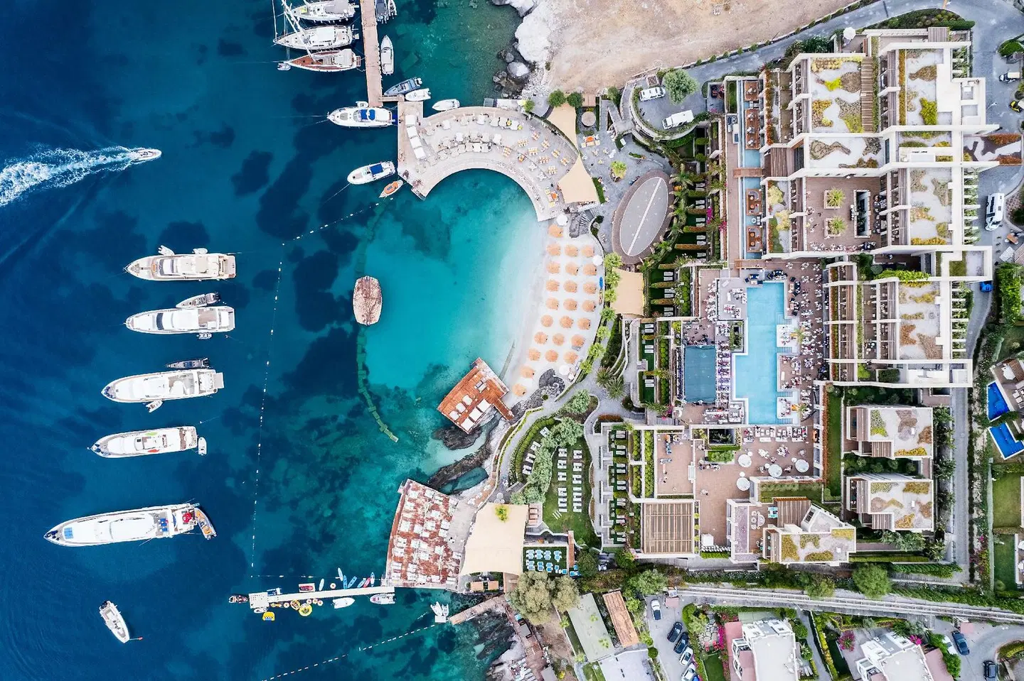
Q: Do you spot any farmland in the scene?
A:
No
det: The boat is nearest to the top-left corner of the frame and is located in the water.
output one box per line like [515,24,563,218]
[128,149,162,161]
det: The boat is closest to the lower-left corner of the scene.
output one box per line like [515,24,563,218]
[97,599,129,643]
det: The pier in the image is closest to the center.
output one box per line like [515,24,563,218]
[437,357,513,434]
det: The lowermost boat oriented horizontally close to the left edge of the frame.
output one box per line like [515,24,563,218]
[44,503,210,541]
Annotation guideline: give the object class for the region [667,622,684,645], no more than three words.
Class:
car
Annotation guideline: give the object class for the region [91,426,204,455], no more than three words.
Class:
boat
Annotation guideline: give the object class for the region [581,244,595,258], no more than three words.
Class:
umbrella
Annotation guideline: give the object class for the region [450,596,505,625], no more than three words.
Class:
pier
